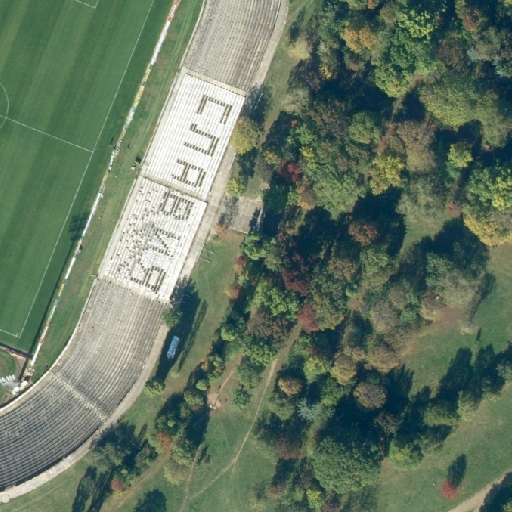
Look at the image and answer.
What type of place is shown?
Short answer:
sports ground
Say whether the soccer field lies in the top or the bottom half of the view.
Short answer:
top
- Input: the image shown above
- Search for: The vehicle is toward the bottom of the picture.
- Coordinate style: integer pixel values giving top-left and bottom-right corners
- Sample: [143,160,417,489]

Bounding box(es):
[166,336,179,358]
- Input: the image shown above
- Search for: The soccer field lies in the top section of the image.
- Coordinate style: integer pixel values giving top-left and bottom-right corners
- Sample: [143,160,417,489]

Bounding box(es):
[0,0,176,354]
